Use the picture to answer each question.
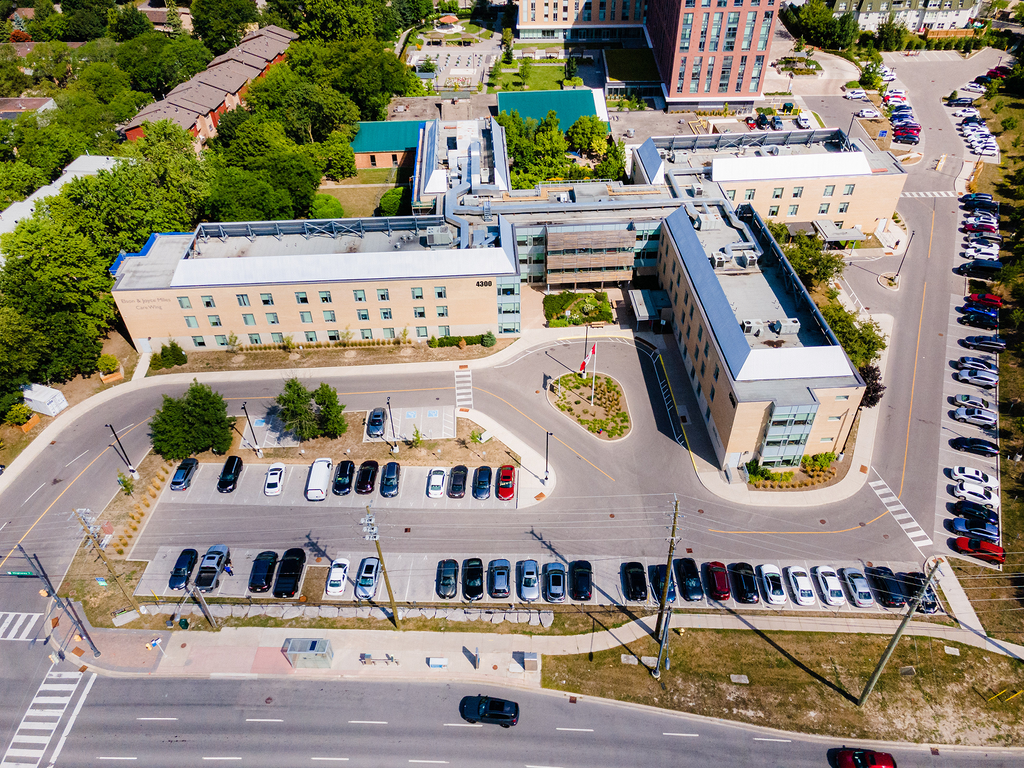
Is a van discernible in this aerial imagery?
Yes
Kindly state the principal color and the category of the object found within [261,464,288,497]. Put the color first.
white car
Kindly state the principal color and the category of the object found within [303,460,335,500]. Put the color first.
white van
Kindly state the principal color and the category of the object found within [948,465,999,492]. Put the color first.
white car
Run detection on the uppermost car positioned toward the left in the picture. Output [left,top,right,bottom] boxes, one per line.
[366,408,387,437]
